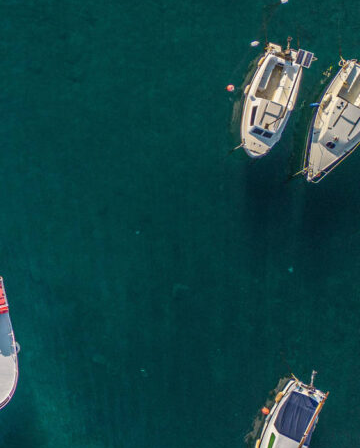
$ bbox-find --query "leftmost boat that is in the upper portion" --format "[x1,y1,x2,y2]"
[233,37,318,157]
